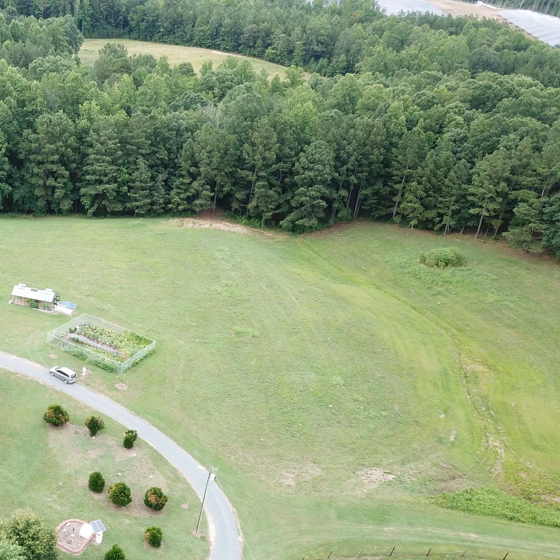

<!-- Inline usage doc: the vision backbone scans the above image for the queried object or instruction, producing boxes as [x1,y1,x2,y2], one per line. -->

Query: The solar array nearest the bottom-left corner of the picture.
[91,518,108,533]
